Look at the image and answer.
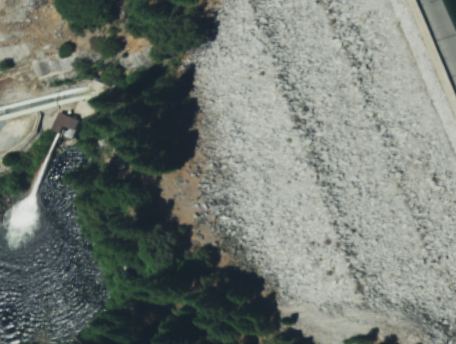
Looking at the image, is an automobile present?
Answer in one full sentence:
No, the frame has no automobile in it.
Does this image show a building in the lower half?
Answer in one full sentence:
No, in the lower half there is no building.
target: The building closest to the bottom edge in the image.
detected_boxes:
[50,112,78,140]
